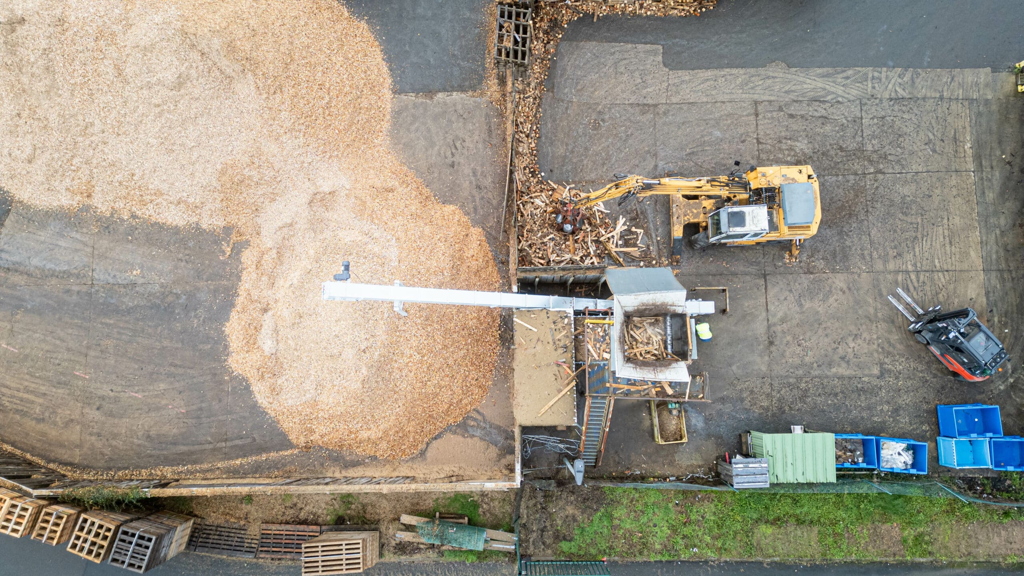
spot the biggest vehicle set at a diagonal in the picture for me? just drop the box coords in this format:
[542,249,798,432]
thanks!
[888,288,1011,382]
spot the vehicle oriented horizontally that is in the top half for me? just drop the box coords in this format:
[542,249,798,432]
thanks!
[552,160,821,269]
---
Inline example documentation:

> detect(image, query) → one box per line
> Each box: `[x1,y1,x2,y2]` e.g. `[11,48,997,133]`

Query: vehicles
[888,288,1011,382]
[552,160,821,269]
